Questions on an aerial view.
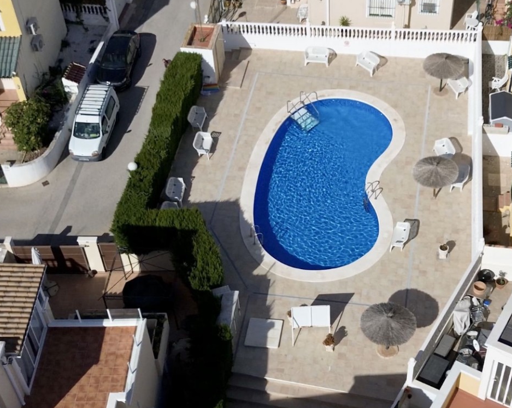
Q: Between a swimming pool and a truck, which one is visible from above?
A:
swimming pool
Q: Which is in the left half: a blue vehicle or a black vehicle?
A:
black vehicle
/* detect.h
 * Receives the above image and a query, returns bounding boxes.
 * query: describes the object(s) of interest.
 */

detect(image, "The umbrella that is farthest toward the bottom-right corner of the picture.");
[360,296,421,358]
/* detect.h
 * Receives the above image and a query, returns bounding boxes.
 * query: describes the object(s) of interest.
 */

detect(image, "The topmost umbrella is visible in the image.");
[421,47,468,95]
